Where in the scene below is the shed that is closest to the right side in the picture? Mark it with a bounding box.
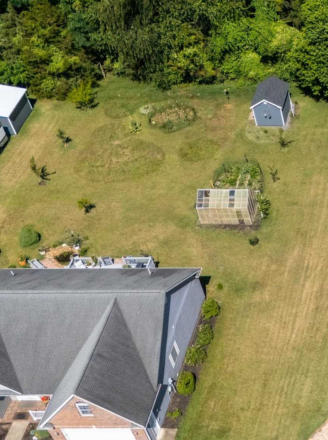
[250,75,291,126]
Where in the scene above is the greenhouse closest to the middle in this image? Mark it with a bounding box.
[196,189,255,225]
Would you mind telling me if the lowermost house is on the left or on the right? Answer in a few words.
left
